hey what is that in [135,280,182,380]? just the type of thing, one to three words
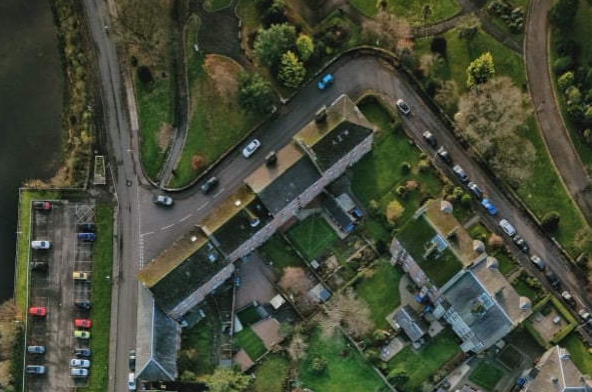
house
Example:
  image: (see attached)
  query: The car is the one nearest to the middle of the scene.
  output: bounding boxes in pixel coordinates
[242,139,260,155]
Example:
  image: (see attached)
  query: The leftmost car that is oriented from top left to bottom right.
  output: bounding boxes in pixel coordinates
[395,96,411,113]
